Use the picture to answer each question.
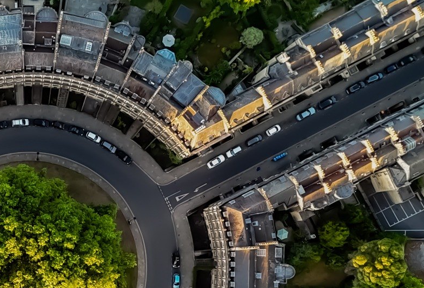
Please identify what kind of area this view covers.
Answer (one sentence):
This looks like a residential area.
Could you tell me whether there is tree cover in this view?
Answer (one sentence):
Yes, tree cover can be seen from above here.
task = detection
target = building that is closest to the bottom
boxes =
[207,240,291,288]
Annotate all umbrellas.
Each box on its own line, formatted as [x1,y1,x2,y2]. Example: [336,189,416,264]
[277,228,288,239]
[161,35,174,47]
